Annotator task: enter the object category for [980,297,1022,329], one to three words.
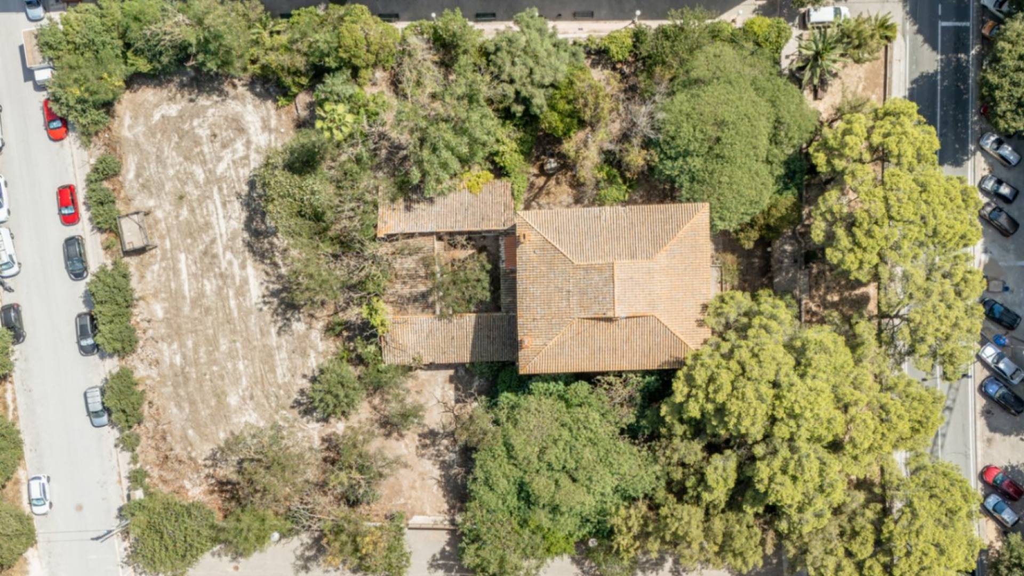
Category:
car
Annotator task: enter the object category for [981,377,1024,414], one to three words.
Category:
car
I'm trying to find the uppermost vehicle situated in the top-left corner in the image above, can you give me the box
[22,0,47,21]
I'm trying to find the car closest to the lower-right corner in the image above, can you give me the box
[980,492,1020,528]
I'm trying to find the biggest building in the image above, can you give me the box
[516,201,713,375]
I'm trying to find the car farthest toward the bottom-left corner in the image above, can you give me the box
[28,474,52,515]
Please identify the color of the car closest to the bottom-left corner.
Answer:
white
